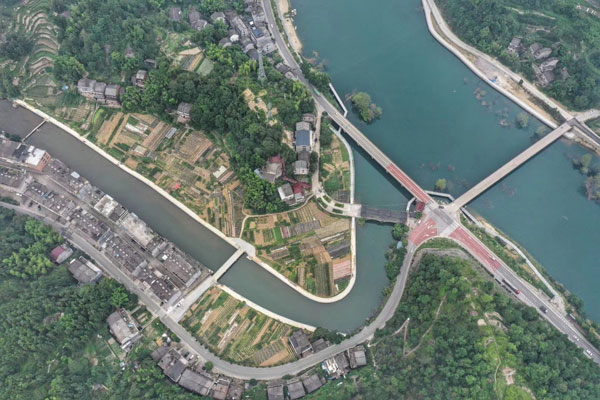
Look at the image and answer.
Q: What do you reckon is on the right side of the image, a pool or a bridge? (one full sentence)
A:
The feature located on the right side of the image is a bridge.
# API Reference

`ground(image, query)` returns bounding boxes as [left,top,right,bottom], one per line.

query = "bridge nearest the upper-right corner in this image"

[455,119,574,210]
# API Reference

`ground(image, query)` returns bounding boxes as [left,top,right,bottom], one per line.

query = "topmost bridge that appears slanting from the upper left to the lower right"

[326,106,429,205]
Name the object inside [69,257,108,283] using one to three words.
house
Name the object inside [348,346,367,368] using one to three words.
house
